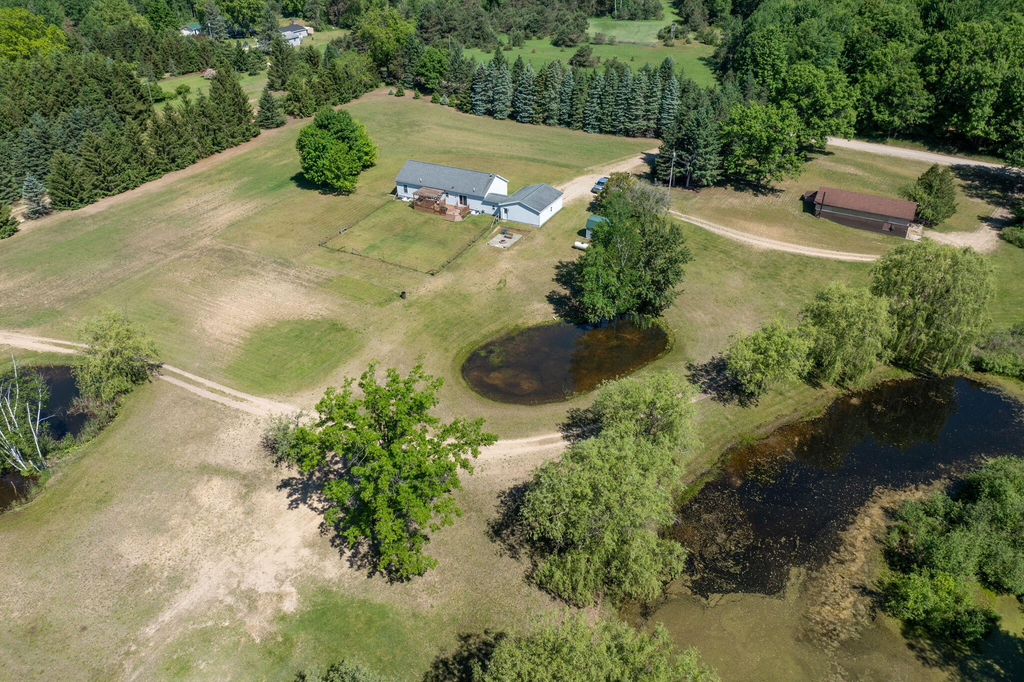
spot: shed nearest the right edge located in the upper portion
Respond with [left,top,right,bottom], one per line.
[816,186,923,239]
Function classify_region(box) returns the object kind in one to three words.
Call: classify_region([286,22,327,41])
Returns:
house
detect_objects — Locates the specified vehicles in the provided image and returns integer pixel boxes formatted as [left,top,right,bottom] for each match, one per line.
[593,176,610,190]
